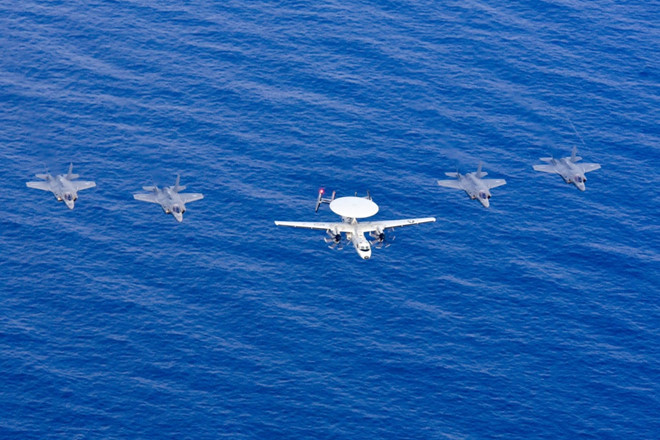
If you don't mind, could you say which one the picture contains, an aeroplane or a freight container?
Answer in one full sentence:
I can see an aeroplane in this picture.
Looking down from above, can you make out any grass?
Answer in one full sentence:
No, no grass is visible.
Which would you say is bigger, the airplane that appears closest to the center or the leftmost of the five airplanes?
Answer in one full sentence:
The airplane that appears closest to the center takes up more space than the leftmost of the five airplanes.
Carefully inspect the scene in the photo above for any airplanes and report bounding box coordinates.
[133,175,204,222]
[533,146,601,191]
[438,161,506,207]
[27,164,95,209]
[275,189,435,260]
